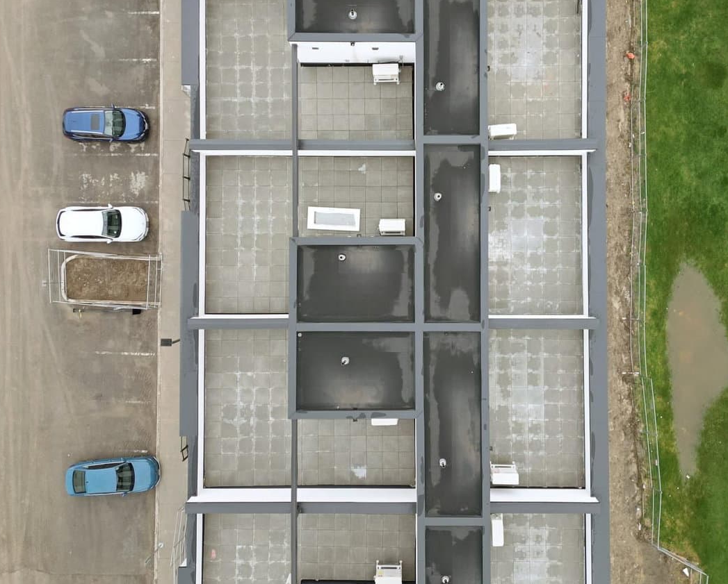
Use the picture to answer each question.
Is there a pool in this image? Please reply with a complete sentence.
No, I can see no pool in this picture.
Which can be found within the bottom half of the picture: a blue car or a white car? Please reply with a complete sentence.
What appears within the bottom half of the picture is a blue car.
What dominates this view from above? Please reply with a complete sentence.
What you mostly see from above here is buildings.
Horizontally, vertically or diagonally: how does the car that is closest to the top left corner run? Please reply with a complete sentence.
The car that is closest to the top left corner is oriented horizontally.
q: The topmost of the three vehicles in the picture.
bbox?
[61,104,153,147]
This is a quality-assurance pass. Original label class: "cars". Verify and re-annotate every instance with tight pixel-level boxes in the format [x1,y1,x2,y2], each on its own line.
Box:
[66,453,165,498]
[61,104,153,147]
[53,203,152,247]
